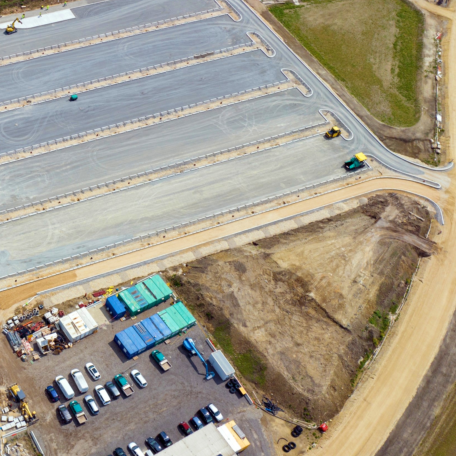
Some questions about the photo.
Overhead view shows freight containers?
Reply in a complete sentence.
Yes, the photo shows a freight container.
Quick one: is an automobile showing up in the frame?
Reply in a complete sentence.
Yes, looking at the shot, I can spot an automobile.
